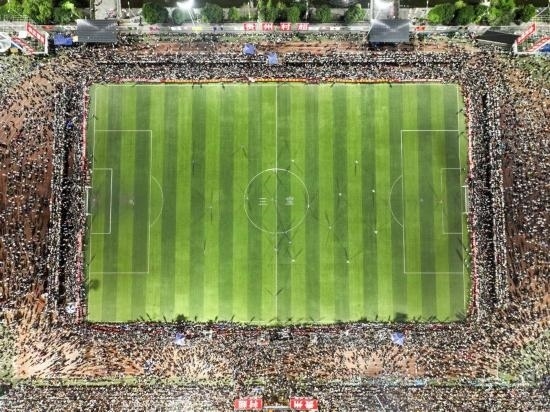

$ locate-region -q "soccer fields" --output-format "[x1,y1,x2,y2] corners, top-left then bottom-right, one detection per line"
[82,80,472,325]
